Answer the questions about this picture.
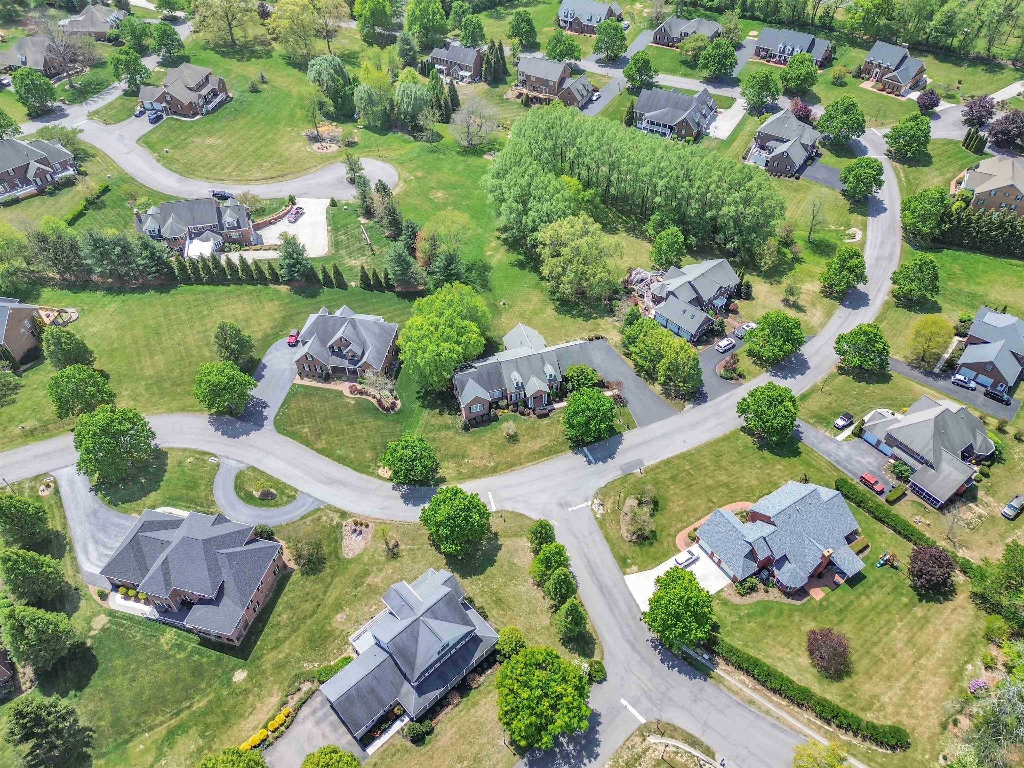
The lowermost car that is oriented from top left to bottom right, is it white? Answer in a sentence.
No, the color of the lowermost car that is oriented from top left to bottom right is red.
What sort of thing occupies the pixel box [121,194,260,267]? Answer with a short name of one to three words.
house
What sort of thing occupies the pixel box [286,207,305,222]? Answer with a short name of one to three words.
vehicle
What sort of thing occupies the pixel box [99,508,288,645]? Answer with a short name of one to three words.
house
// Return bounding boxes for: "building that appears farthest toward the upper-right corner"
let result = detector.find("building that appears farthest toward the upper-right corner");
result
[861,40,926,98]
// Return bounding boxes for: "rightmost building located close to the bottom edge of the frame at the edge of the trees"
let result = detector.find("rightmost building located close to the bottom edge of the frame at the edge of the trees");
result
[319,564,500,738]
